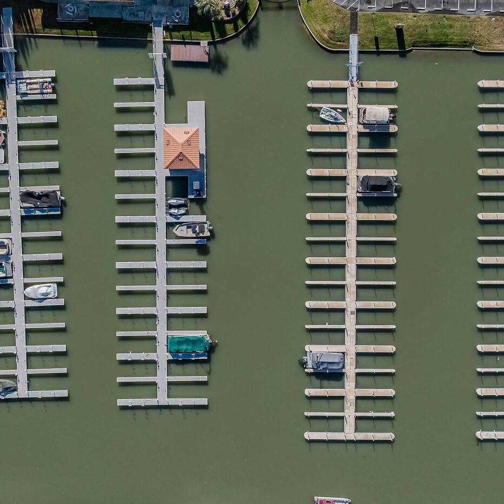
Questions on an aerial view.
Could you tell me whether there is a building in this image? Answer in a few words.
Yes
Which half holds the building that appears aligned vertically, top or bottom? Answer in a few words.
top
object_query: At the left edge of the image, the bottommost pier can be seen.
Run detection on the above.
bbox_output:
[0,69,68,402]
